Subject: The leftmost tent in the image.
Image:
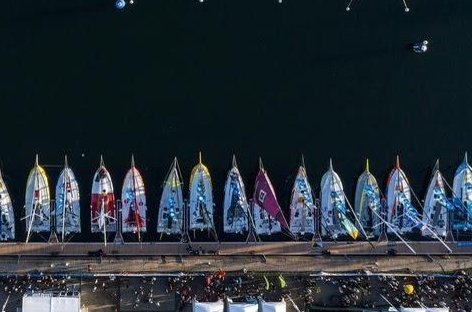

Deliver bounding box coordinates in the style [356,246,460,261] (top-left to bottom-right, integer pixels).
[191,298,223,312]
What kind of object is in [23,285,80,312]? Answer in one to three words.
building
